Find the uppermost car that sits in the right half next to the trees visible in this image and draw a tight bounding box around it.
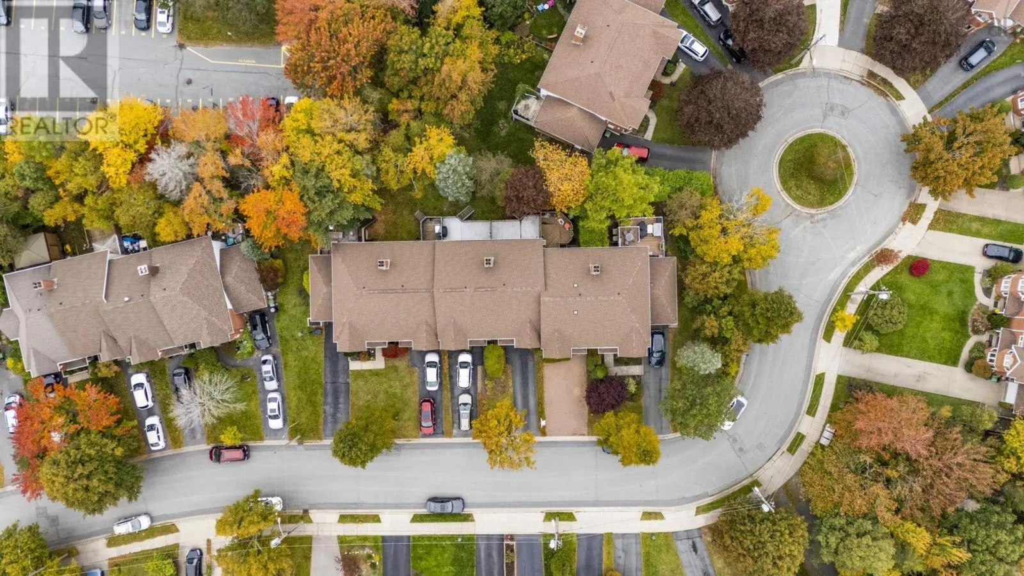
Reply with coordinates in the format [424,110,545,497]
[687,0,722,29]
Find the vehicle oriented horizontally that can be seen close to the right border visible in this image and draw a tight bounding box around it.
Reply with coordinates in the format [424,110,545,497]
[981,244,1021,263]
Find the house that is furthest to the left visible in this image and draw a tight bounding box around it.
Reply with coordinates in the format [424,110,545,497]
[0,249,123,378]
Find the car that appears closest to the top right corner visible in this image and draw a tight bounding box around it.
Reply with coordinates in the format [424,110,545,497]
[959,38,995,72]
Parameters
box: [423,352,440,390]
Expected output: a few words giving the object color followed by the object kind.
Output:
white car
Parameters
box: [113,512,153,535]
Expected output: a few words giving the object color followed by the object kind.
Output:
white car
